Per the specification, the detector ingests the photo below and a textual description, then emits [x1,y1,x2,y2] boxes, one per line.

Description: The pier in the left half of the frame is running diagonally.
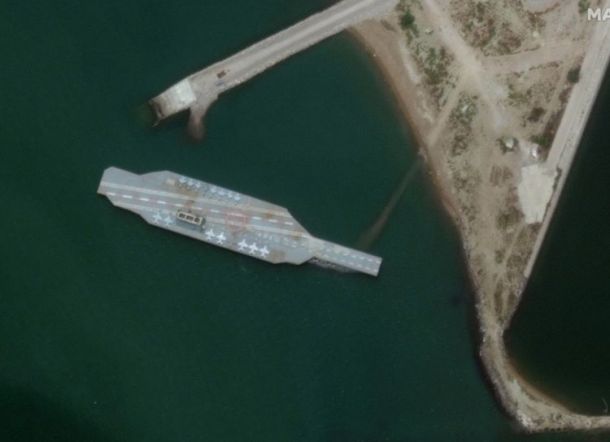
[151,78,195,126]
